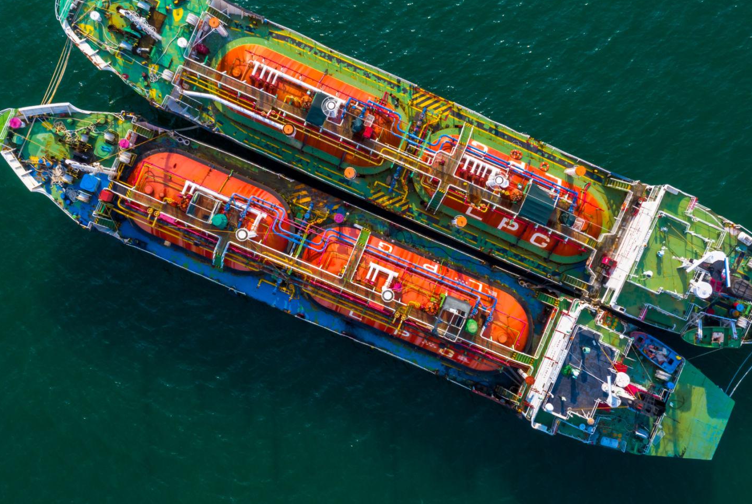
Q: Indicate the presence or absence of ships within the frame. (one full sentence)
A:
Yes, looking at the shot, I can spot a ship.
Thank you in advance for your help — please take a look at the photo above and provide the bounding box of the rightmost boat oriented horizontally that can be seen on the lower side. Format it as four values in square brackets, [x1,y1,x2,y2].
[682,327,743,349]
